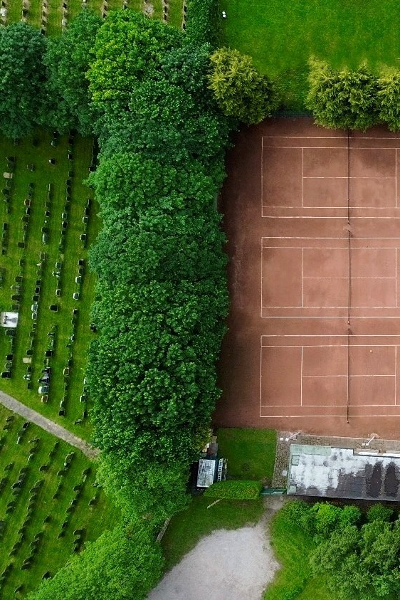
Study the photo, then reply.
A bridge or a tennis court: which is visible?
tennis court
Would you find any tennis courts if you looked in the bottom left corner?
No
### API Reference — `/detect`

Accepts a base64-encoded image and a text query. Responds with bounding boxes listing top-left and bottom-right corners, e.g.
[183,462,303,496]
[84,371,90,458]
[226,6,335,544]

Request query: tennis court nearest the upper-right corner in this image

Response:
[261,138,400,218]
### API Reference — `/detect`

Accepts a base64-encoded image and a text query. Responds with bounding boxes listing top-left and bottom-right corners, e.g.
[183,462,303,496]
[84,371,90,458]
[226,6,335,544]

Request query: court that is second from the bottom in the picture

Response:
[261,238,400,318]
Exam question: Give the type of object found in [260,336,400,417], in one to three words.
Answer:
tennis court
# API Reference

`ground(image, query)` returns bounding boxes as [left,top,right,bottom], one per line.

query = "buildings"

[284,442,400,502]
[197,456,220,488]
